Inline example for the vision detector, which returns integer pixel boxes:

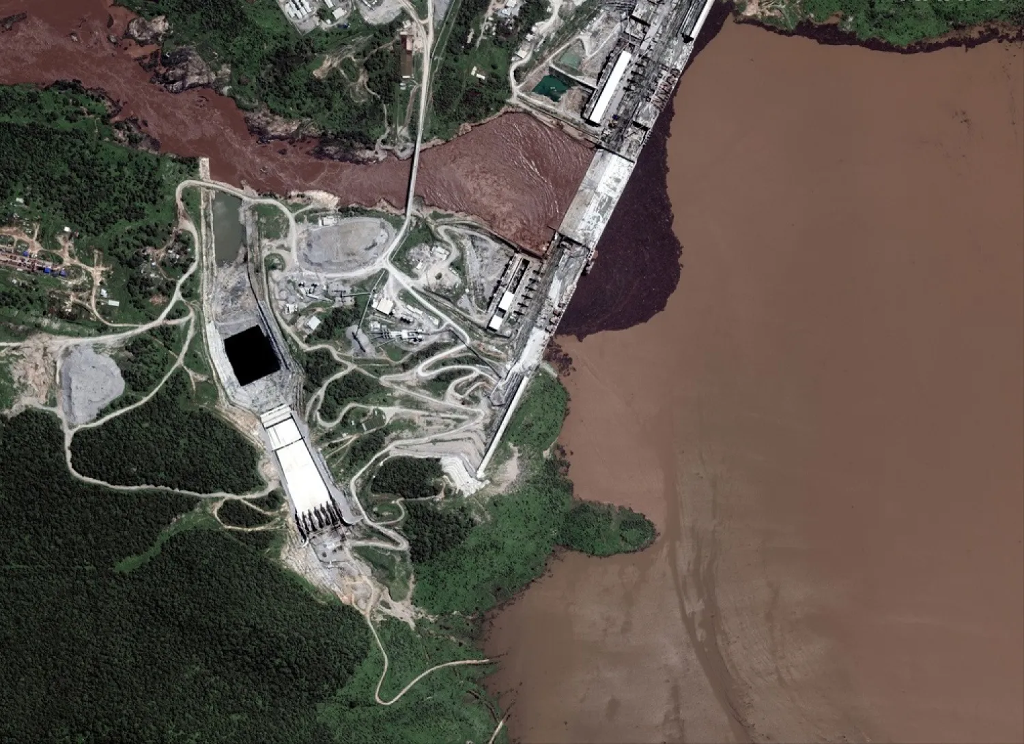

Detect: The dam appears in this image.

[473,0,715,479]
